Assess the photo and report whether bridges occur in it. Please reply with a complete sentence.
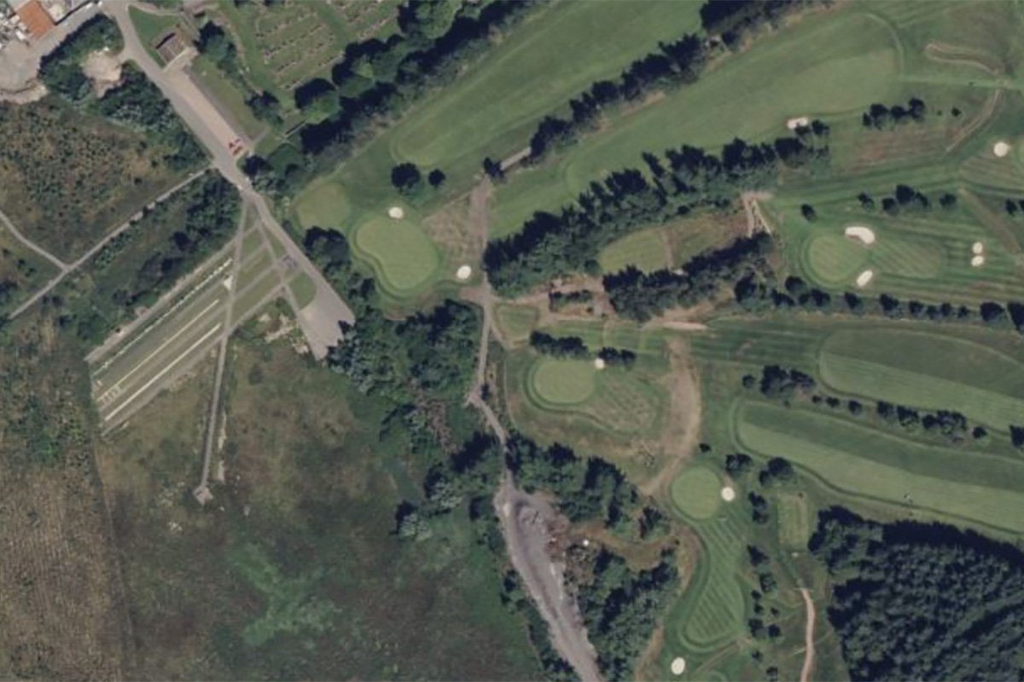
No, the photo shows no bridge.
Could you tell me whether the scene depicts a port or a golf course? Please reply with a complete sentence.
The area seen from above is a golf course.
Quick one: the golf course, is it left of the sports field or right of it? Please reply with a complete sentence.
The golf course is to the right of the sports field.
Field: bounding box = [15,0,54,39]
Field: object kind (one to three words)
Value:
building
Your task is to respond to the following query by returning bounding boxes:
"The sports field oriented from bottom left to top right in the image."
[82,208,313,437]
